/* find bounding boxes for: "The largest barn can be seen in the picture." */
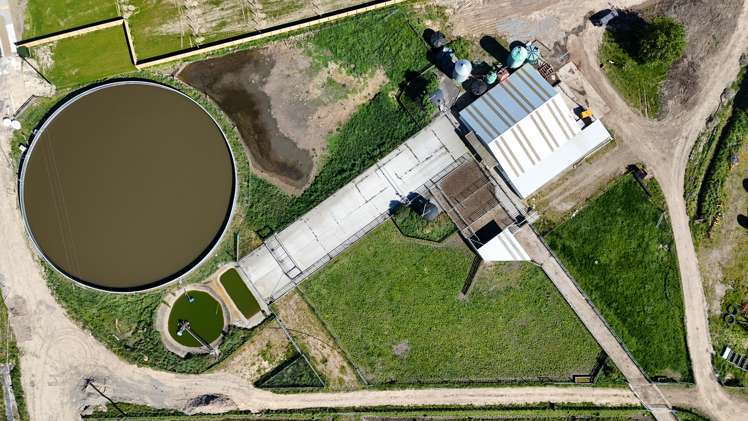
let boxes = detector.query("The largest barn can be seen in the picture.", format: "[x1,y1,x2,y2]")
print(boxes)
[460,61,612,200]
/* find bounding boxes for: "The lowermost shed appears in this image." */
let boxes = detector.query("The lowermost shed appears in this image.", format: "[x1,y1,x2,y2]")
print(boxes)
[475,228,531,261]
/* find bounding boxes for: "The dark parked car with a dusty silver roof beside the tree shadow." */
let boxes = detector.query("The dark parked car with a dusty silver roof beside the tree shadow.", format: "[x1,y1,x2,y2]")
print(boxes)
[591,7,617,29]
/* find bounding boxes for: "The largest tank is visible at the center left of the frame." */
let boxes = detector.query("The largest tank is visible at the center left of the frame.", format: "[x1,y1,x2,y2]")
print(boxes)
[20,78,239,294]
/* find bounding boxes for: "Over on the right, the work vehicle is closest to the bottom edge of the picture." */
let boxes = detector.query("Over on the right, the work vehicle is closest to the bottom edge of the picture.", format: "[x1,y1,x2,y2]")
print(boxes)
[576,105,595,120]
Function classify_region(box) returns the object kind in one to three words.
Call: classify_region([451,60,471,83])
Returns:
silo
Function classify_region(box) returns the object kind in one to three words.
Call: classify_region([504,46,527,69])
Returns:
silo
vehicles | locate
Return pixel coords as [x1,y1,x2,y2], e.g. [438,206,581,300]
[576,105,595,120]
[591,7,617,29]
